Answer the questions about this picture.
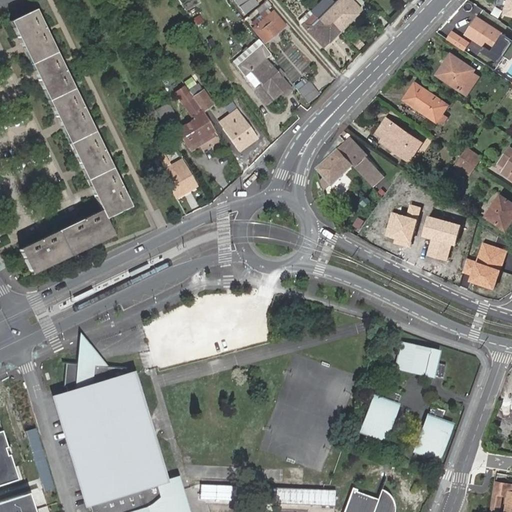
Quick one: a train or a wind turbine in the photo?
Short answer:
train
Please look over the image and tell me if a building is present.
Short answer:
Yes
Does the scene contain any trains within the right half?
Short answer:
No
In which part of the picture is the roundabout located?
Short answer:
center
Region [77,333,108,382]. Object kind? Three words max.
building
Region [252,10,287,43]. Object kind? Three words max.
house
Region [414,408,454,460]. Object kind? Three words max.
building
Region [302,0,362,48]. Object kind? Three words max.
house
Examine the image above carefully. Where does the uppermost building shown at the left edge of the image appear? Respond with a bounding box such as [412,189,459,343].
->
[10,7,132,218]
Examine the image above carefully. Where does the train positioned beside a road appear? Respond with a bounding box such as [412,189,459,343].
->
[72,260,172,312]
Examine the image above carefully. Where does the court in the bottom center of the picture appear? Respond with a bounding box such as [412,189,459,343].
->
[258,354,353,472]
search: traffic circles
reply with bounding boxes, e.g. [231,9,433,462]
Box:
[235,183,334,274]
